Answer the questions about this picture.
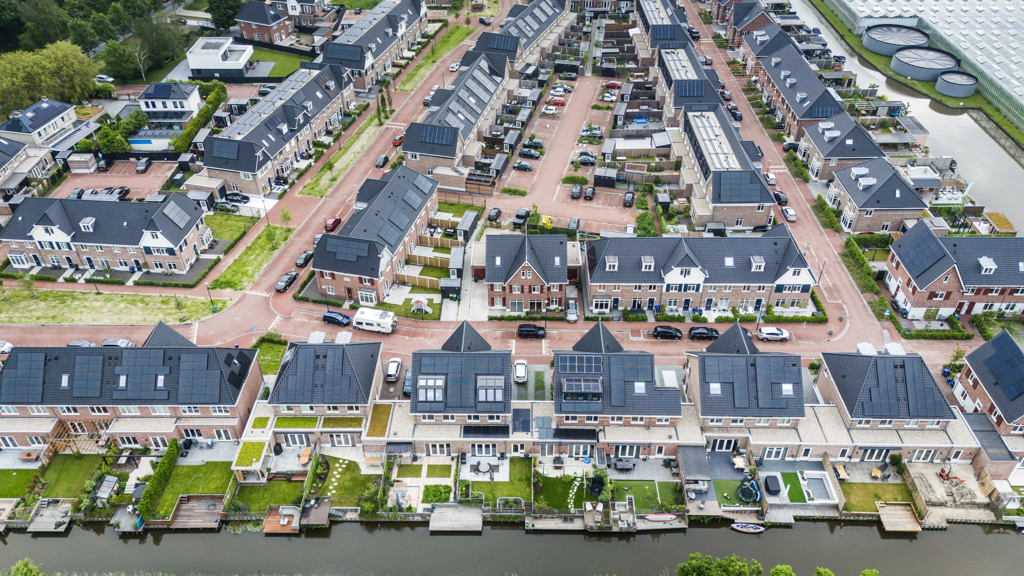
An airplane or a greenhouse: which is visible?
greenhouse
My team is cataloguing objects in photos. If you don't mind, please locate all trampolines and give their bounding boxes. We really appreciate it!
[583,471,610,501]
[731,473,766,508]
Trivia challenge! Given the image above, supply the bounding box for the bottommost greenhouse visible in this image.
[87,461,135,503]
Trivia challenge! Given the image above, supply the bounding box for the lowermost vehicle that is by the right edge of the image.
[938,463,977,488]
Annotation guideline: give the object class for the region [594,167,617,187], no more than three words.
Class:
shed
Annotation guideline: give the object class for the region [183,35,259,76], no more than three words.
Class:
house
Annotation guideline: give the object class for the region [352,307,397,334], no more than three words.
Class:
camper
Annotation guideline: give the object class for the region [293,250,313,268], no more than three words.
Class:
car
